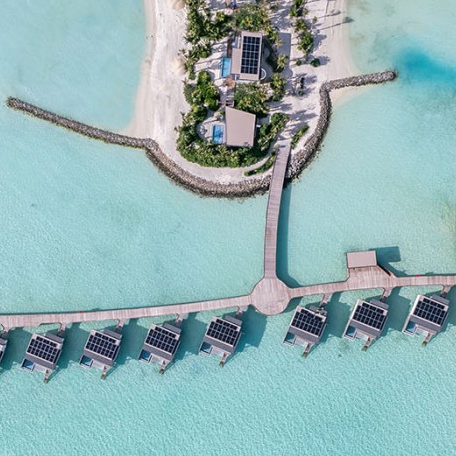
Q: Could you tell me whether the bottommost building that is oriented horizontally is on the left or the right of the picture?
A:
right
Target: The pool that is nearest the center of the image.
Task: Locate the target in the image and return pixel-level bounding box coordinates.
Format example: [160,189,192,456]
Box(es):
[211,123,226,145]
